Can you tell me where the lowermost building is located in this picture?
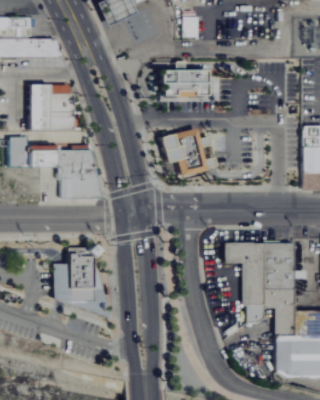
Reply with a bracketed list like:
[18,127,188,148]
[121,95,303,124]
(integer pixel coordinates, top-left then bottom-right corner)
[272,335,320,376]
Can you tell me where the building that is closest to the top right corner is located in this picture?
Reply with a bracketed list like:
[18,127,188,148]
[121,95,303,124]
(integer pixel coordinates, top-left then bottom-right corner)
[178,10,199,39]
